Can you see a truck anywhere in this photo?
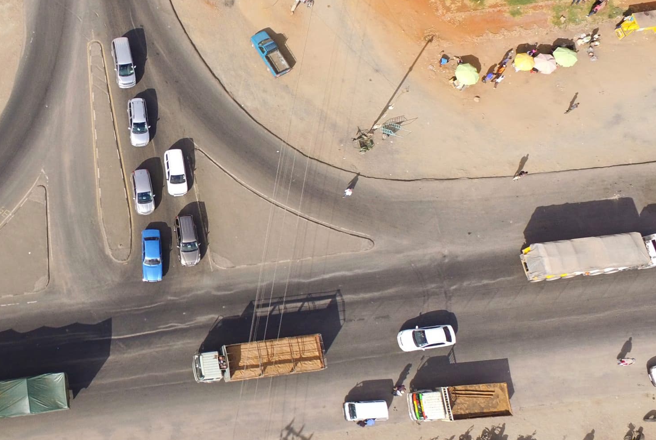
Yes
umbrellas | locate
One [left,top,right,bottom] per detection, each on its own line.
[510,54,531,73]
[531,54,553,76]
[454,64,475,87]
[551,49,574,70]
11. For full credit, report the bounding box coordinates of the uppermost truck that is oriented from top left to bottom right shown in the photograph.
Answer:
[249,30,295,81]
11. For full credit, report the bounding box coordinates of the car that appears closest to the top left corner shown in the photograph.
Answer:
[110,34,138,90]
